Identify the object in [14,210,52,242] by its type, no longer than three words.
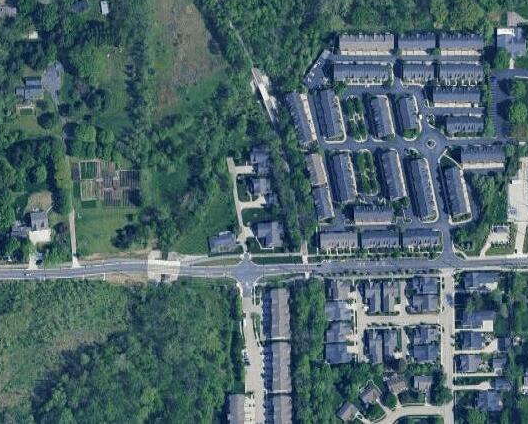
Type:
house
